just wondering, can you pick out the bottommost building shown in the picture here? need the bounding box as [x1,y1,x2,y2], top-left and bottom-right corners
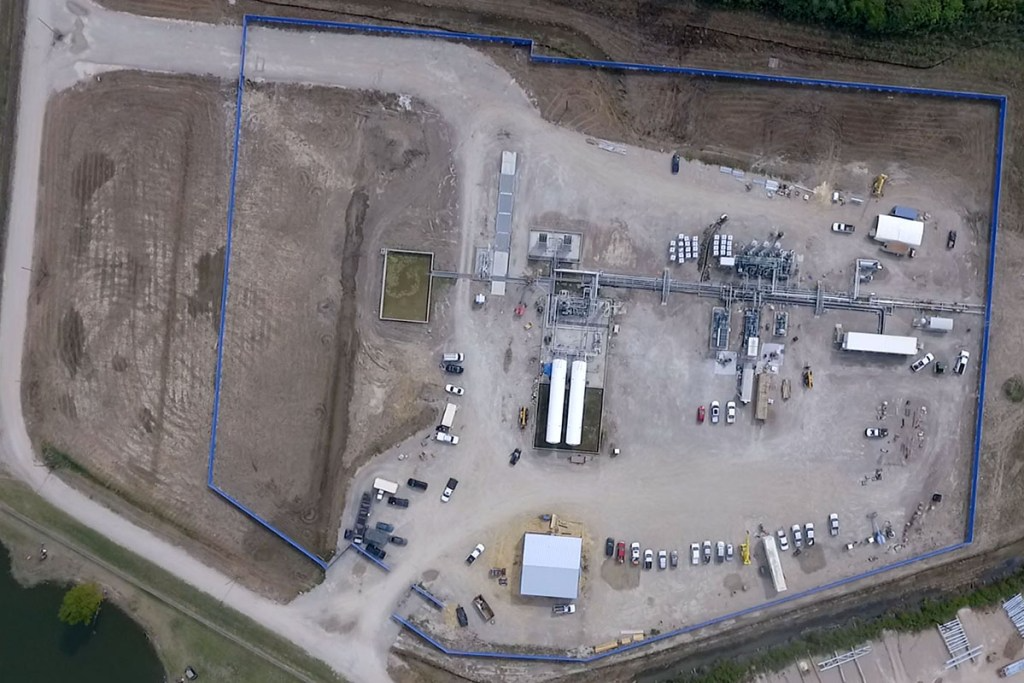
[519,530,583,599]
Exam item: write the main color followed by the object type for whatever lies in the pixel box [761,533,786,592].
white trailer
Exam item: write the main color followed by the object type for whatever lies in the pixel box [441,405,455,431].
white vehicle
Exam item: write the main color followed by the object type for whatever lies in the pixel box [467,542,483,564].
white vehicle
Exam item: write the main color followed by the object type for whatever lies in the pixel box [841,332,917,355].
white trailer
